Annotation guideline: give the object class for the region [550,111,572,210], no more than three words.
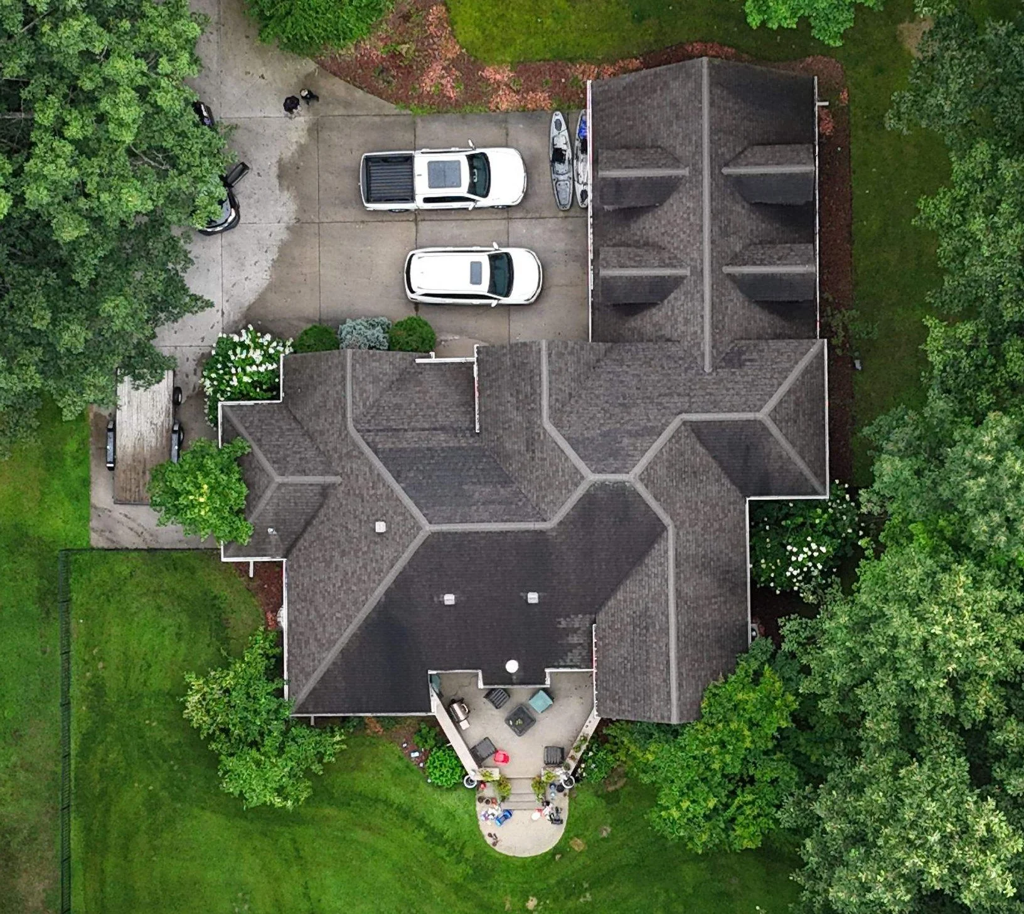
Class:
boat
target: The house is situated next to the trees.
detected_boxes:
[217,57,832,725]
